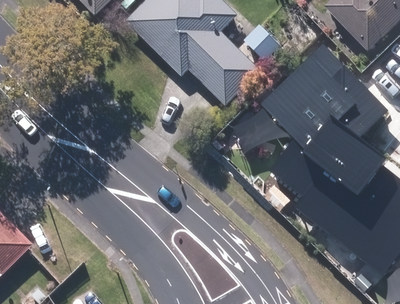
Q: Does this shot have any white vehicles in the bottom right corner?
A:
No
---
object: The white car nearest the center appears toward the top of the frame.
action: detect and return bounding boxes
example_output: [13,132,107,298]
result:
[160,96,180,126]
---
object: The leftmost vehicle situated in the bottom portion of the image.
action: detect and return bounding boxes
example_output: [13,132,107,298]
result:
[30,224,50,254]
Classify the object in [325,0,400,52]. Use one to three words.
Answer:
house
